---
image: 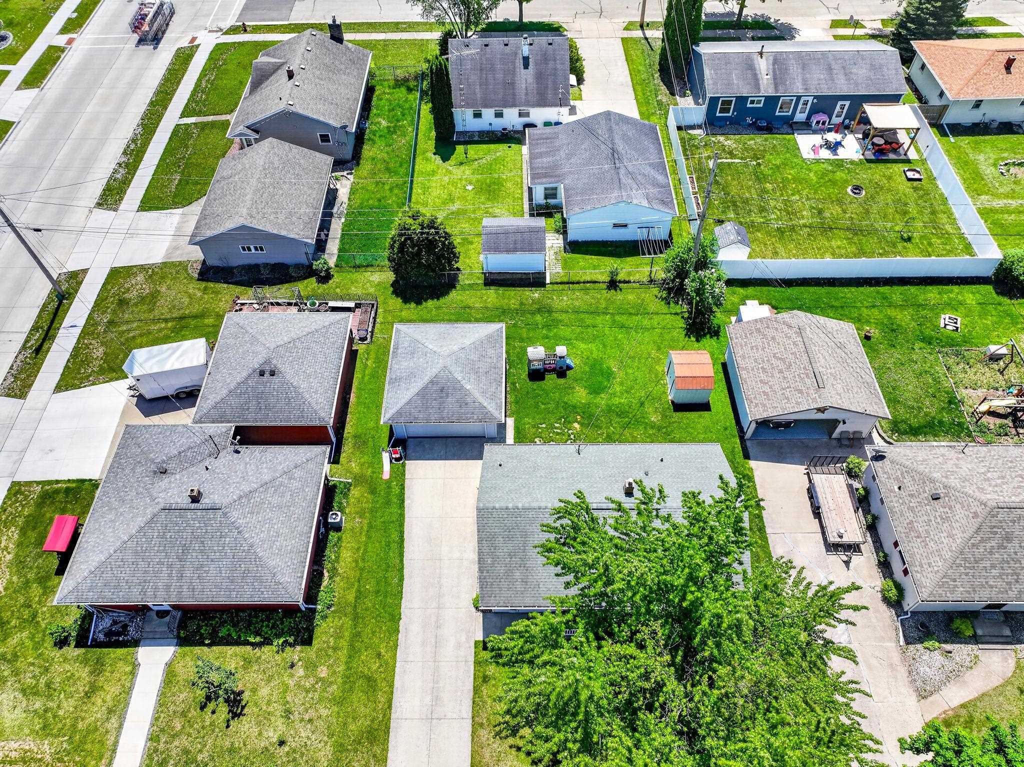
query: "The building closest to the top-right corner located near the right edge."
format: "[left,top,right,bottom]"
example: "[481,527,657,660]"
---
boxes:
[908,39,1024,137]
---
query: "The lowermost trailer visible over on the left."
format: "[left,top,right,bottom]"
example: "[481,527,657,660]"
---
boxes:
[120,338,212,396]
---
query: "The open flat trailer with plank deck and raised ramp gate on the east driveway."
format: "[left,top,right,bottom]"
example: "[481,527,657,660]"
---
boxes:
[808,454,868,569]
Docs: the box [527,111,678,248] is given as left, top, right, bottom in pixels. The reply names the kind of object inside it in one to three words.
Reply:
building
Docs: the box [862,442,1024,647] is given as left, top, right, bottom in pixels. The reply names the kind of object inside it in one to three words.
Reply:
house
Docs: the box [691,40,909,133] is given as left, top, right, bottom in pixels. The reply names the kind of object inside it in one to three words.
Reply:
house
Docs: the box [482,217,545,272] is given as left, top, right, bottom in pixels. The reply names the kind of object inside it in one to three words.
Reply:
shed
